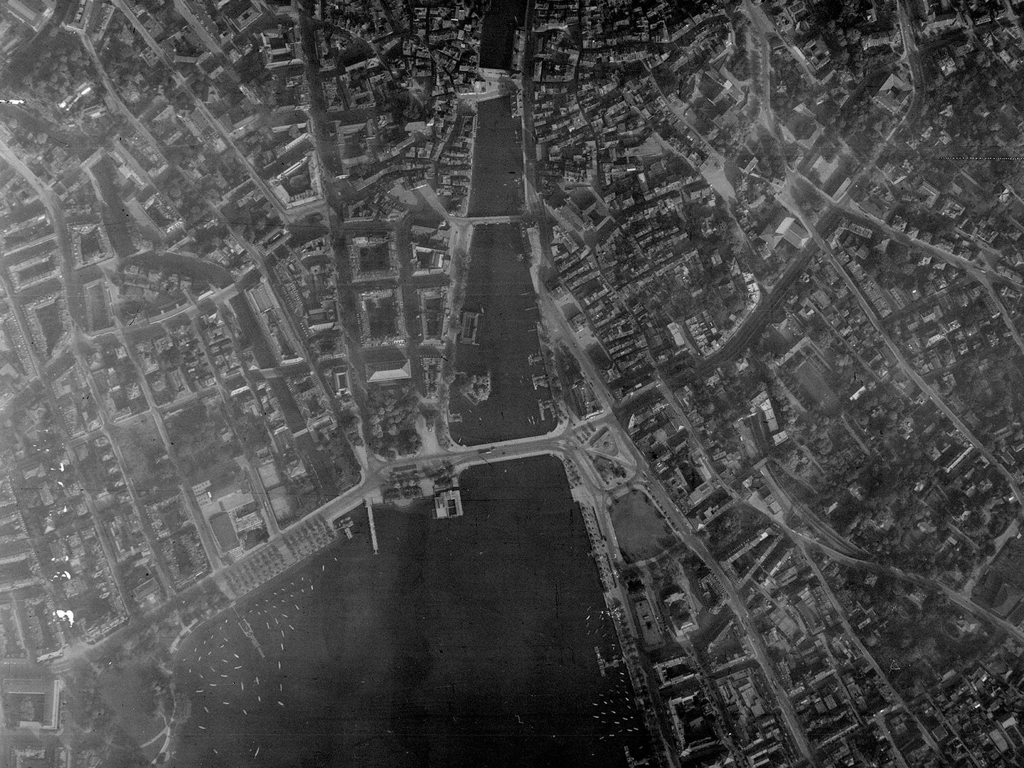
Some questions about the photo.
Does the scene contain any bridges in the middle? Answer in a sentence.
Yes, a bridge appears in the middle.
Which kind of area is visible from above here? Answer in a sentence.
This looks like a residential area.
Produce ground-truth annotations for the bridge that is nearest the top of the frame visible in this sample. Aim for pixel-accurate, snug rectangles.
[476,68,525,102]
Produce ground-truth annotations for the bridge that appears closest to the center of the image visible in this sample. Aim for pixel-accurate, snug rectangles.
[460,434,555,466]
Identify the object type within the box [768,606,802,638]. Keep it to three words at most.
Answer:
building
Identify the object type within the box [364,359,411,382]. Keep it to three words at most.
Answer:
house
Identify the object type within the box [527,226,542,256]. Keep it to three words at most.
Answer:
house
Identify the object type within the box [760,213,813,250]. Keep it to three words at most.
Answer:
building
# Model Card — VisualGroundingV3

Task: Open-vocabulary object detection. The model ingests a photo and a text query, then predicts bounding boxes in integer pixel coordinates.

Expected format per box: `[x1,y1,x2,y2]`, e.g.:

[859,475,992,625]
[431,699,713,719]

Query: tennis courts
[268,487,290,513]
[259,464,279,487]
